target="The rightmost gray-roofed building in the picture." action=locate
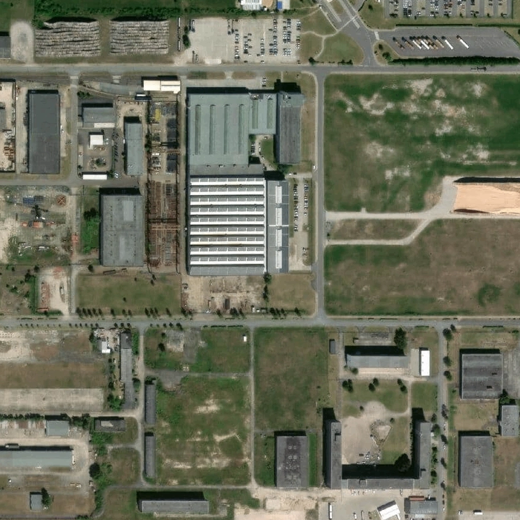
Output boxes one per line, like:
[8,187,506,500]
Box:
[500,406,519,436]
